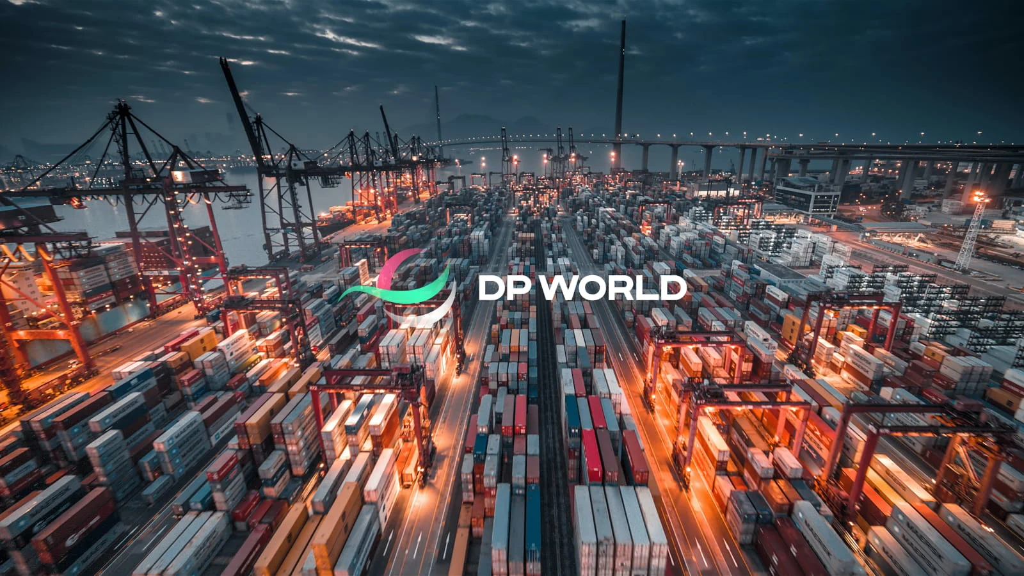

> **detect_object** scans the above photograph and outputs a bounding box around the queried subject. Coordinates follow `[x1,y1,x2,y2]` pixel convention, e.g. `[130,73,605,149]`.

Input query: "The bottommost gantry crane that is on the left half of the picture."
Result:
[297,377,436,495]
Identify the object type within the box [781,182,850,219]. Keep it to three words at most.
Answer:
building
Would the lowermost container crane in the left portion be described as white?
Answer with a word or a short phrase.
No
